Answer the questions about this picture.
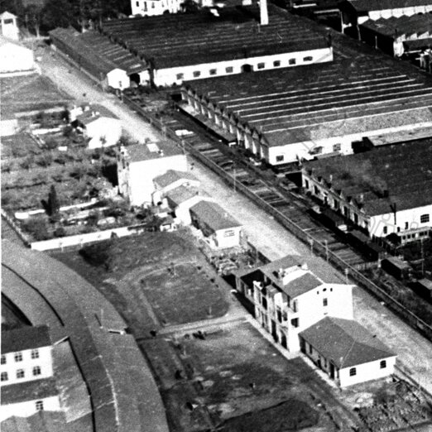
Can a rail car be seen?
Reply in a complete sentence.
Yes, this view includes a rail car.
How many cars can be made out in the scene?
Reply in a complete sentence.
I count no cars.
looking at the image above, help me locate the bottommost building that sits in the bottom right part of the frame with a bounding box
[301,329,399,387]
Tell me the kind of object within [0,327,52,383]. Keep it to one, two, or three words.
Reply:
building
